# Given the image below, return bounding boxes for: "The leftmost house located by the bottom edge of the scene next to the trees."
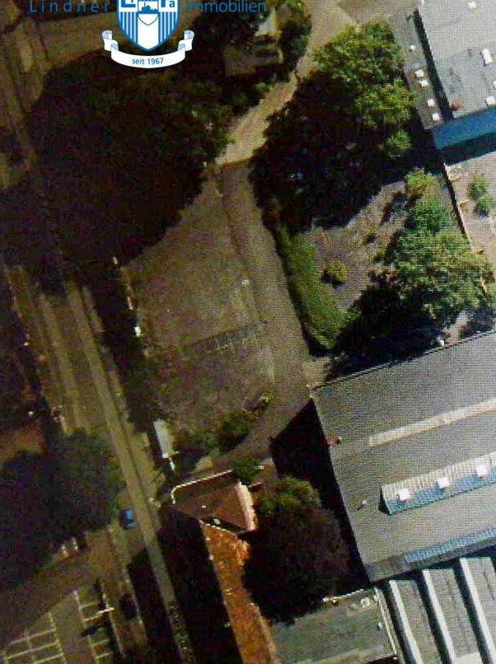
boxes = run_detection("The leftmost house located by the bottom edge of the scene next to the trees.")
[189,523,278,664]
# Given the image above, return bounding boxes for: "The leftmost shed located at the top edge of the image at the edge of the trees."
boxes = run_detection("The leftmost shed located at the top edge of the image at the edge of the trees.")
[247,7,284,48]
